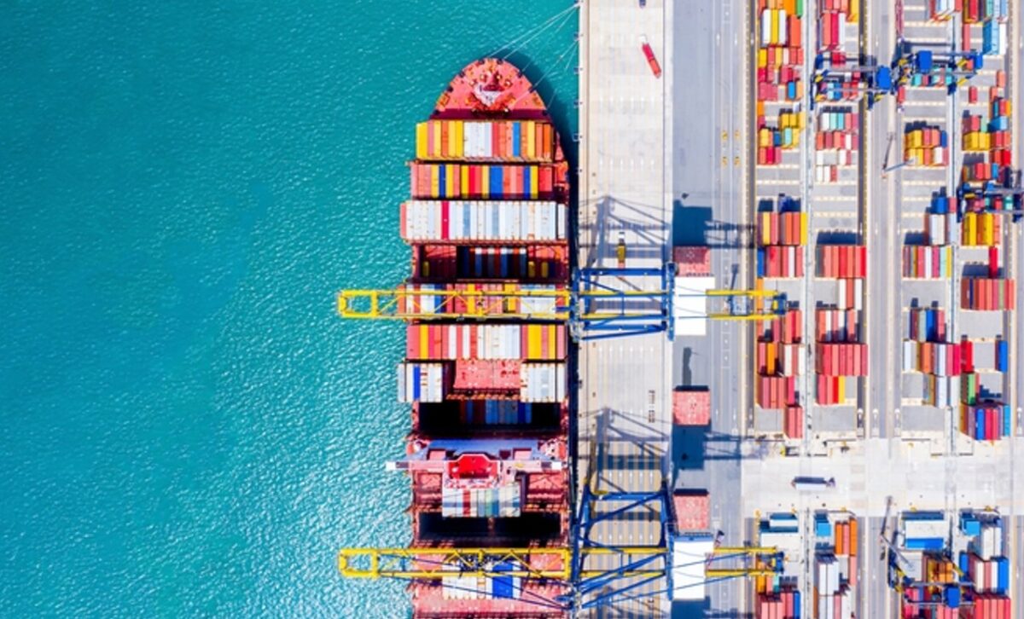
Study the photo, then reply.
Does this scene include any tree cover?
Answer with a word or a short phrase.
No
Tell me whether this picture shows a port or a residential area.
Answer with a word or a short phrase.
port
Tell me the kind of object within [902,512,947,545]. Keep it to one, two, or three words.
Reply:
shed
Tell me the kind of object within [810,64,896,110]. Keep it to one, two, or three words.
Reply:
crane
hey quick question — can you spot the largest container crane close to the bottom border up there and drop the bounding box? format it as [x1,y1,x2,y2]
[337,478,784,611]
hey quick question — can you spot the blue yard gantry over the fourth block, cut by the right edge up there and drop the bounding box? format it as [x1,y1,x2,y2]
[954,188,1024,224]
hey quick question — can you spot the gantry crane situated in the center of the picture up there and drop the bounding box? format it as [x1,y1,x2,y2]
[337,260,784,344]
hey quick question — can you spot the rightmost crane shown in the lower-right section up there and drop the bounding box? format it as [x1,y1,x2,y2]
[894,553,987,608]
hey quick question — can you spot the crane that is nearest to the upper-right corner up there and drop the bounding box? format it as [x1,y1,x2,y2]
[894,50,988,98]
